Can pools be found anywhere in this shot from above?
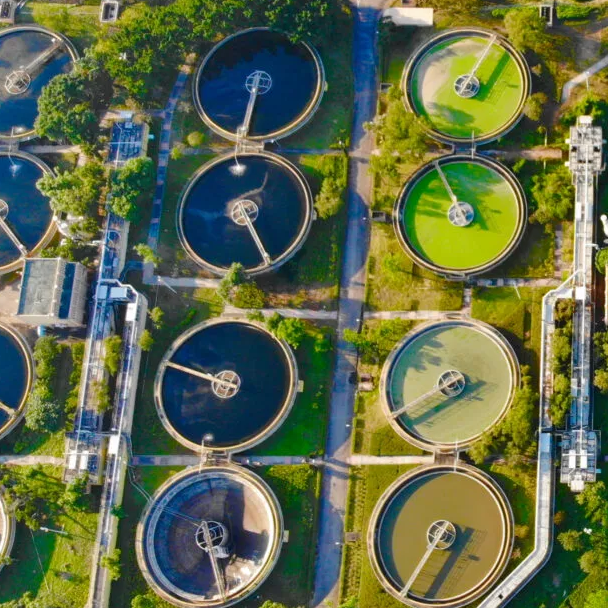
No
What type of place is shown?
industrial area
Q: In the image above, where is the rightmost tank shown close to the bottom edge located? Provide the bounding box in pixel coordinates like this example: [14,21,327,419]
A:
[368,464,514,608]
